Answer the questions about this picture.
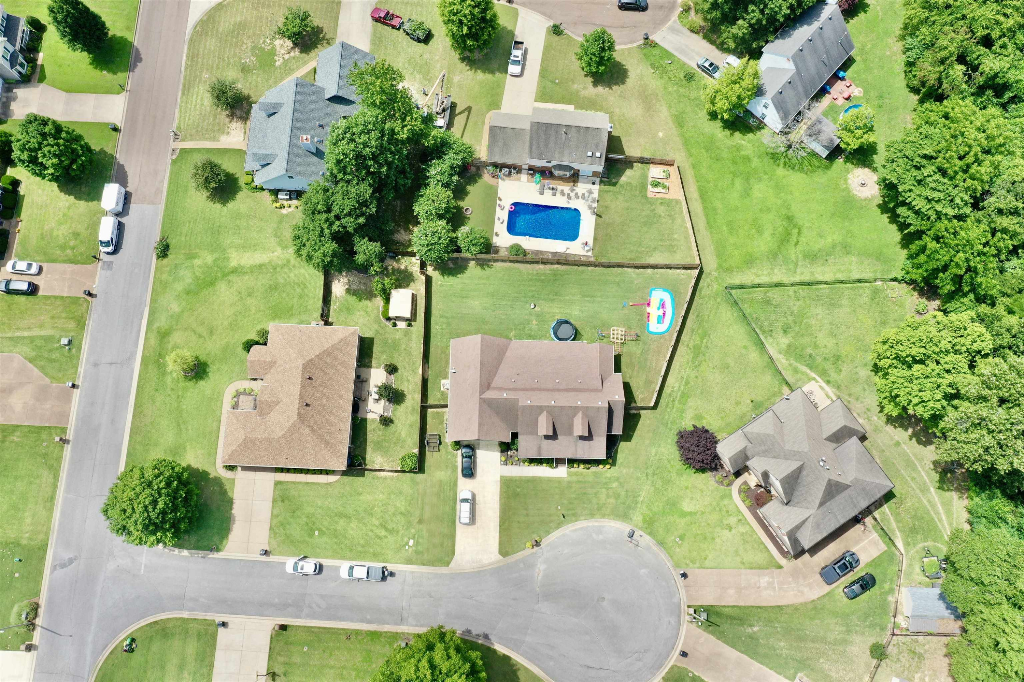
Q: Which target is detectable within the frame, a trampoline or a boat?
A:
trampoline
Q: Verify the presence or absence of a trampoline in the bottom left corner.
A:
No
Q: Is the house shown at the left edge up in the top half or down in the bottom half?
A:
top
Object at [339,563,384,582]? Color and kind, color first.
white vehicle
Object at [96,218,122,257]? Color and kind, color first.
white vehicle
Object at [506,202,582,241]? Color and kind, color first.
blue swimming pool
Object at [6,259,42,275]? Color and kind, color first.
white car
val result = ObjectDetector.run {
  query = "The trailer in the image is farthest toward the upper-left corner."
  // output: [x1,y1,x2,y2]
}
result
[101,186,129,220]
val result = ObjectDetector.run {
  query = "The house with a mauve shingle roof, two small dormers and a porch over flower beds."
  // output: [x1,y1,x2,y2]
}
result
[447,334,625,468]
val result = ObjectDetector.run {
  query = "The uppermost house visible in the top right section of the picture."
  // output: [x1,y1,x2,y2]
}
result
[750,0,855,135]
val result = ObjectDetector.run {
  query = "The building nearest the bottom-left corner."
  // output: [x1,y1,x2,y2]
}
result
[220,324,360,470]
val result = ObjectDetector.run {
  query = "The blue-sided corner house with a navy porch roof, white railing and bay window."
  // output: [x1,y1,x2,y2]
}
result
[0,2,37,92]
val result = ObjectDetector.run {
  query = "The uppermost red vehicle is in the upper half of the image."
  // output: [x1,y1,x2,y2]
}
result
[369,7,402,29]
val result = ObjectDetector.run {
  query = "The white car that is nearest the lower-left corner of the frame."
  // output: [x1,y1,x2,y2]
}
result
[285,553,321,581]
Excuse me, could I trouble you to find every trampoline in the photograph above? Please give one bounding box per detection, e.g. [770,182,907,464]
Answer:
[550,315,576,341]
